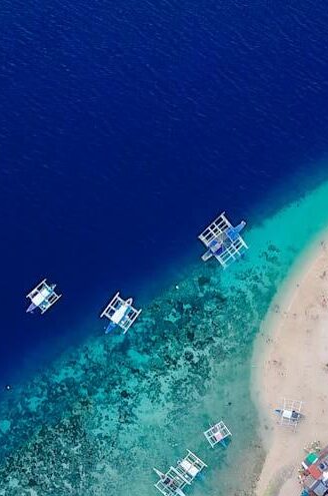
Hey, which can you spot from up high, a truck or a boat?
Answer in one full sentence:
The one in the frame is a boat.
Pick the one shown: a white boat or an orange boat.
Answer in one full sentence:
It is a white boat that can be seen here.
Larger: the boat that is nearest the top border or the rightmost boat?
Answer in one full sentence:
Compared with the rightmost boat, the boat that is nearest the top border is the bigger one.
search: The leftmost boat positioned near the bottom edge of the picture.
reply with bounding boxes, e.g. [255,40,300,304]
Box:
[152,466,189,496]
